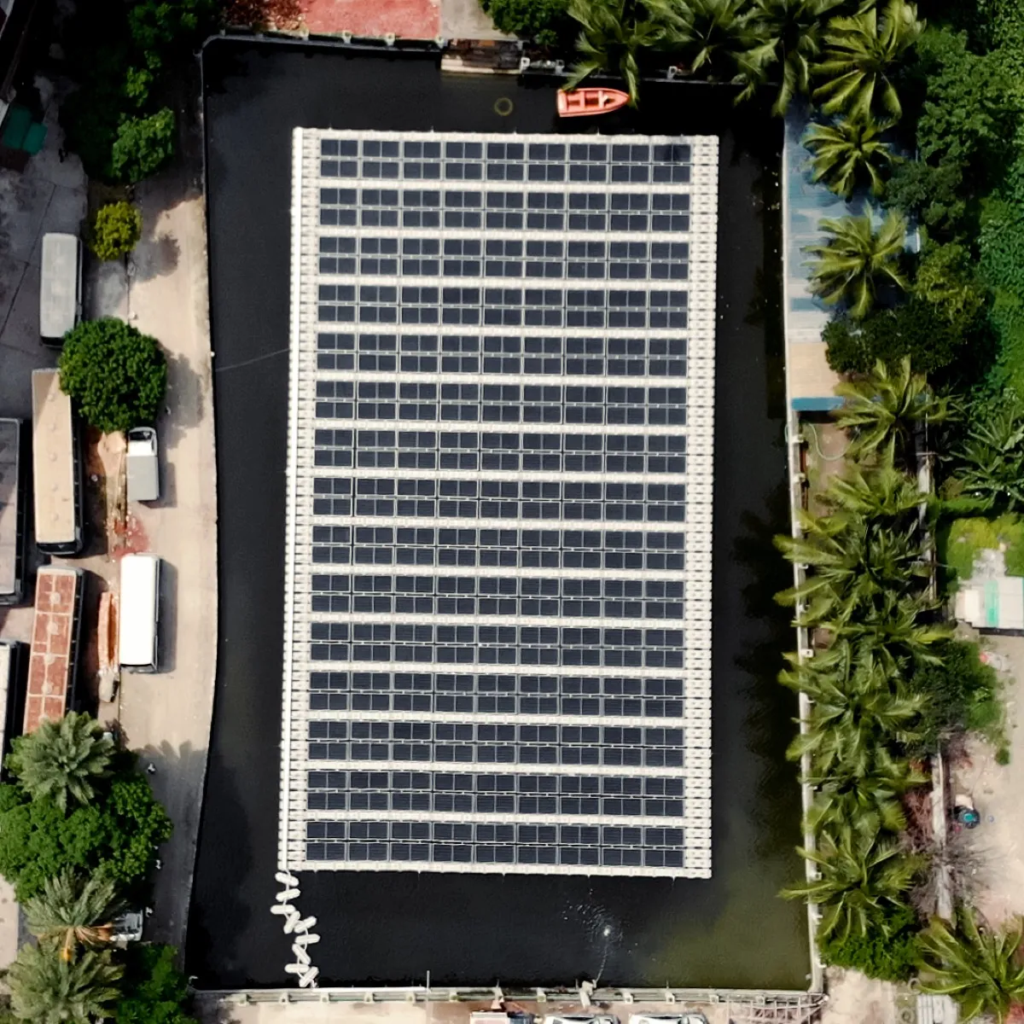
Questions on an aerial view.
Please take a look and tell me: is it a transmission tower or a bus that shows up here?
bus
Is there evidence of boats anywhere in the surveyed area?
Yes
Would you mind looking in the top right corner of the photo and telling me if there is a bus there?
No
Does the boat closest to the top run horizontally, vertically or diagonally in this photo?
horizontally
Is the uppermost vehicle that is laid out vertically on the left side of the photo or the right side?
left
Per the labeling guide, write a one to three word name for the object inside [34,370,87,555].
bus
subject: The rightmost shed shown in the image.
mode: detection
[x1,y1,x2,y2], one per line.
[955,578,1024,630]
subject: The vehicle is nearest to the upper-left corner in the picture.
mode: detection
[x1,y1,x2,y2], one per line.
[42,234,89,351]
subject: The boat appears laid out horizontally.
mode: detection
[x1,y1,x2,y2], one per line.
[557,88,629,117]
